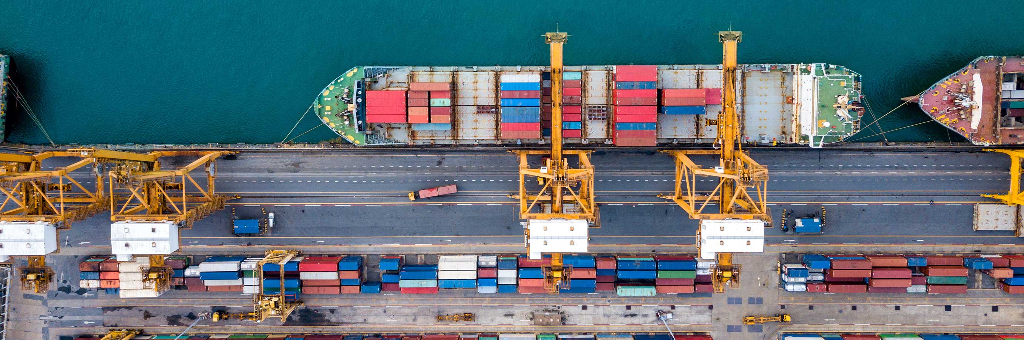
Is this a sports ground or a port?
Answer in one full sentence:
What you see here is a port.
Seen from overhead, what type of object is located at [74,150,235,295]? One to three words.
container crane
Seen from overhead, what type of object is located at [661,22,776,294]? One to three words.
container crane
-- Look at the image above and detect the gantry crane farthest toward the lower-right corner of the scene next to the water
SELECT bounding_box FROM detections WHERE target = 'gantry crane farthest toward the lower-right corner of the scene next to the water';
[975,148,1024,204]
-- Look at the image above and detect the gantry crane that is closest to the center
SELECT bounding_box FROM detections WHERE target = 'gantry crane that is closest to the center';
[508,23,602,294]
